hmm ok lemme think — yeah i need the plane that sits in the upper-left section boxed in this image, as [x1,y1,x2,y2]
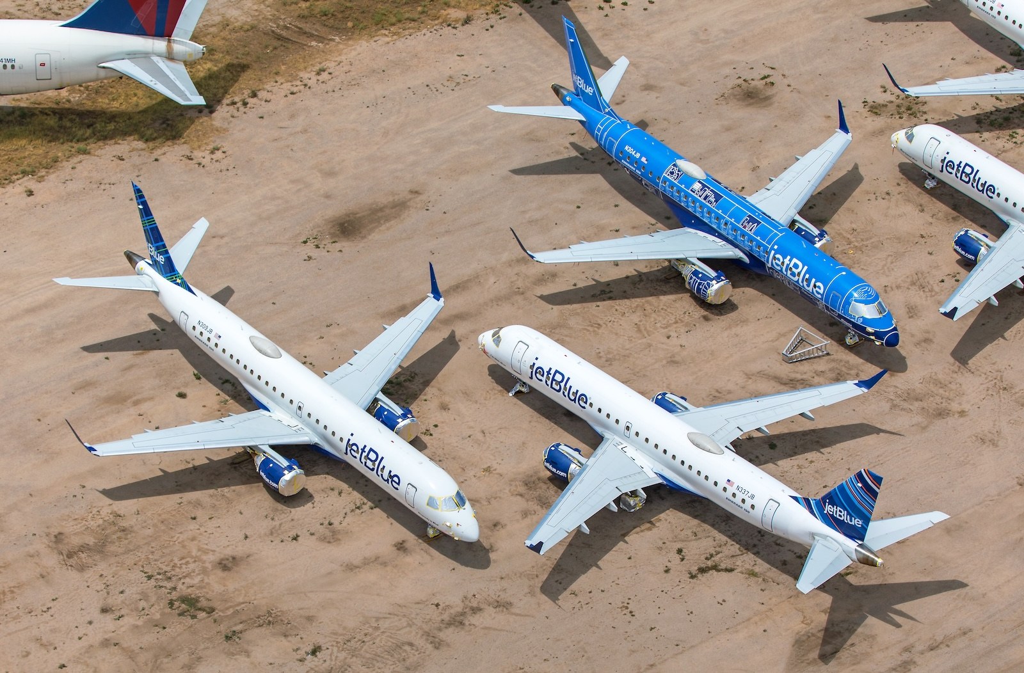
[0,0,212,109]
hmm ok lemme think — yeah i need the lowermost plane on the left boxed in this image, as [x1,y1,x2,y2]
[52,181,482,545]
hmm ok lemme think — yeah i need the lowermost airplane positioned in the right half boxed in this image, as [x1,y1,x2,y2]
[478,327,949,593]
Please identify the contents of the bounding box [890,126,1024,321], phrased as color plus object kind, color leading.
white airplane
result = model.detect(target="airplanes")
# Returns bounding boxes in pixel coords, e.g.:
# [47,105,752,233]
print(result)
[488,16,901,351]
[0,0,212,109]
[478,327,949,593]
[890,126,1024,321]
[52,181,482,545]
